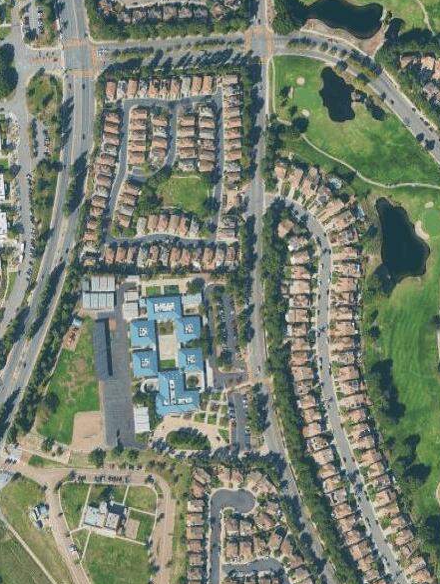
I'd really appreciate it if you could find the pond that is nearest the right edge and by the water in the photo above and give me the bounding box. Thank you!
[379,199,428,291]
